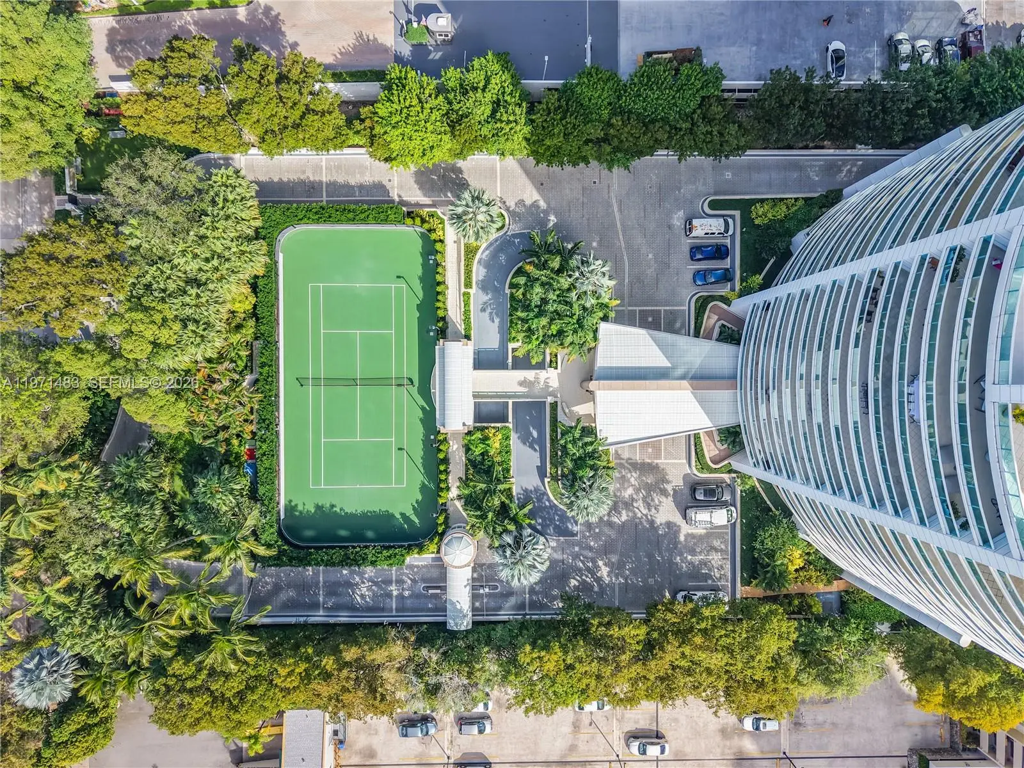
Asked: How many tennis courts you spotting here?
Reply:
1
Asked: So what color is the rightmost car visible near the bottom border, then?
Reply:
white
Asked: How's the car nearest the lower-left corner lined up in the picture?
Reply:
from left to right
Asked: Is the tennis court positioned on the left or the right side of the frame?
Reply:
left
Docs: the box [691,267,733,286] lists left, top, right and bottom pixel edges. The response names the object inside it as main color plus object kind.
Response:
blue car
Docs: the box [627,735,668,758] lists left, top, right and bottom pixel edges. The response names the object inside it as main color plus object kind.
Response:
white car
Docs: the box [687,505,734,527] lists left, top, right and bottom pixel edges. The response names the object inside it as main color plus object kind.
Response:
white vehicle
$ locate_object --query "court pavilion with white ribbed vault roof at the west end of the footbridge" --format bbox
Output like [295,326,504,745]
[431,337,474,439]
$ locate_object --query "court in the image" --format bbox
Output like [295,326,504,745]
[276,223,439,550]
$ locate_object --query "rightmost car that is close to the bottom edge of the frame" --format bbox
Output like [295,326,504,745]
[739,712,781,735]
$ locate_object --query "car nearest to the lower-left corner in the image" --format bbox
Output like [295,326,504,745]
[398,718,439,739]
